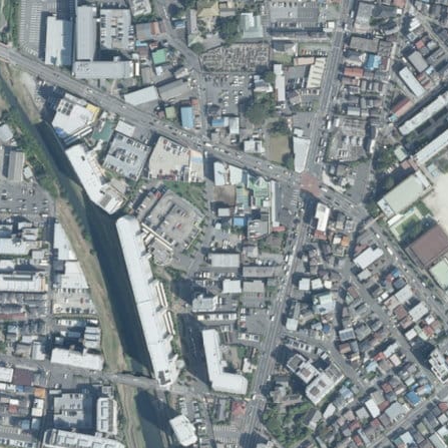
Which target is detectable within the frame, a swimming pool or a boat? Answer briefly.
swimming pool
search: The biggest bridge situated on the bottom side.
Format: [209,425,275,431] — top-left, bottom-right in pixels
[101,367,158,389]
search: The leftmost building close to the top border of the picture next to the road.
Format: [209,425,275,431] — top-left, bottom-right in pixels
[46,17,73,66]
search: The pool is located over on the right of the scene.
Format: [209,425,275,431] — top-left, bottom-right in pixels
[389,206,428,241]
